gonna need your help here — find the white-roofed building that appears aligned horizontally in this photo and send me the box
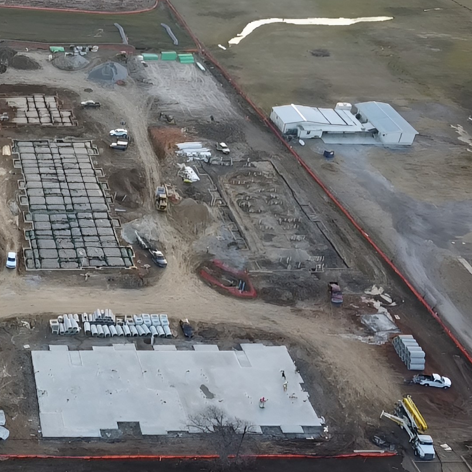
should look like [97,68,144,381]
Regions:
[269,104,376,141]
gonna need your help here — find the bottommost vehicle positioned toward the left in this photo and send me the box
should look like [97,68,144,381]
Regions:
[176,313,196,340]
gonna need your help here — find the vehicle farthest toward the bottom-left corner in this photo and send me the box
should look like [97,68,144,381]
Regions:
[5,249,19,269]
